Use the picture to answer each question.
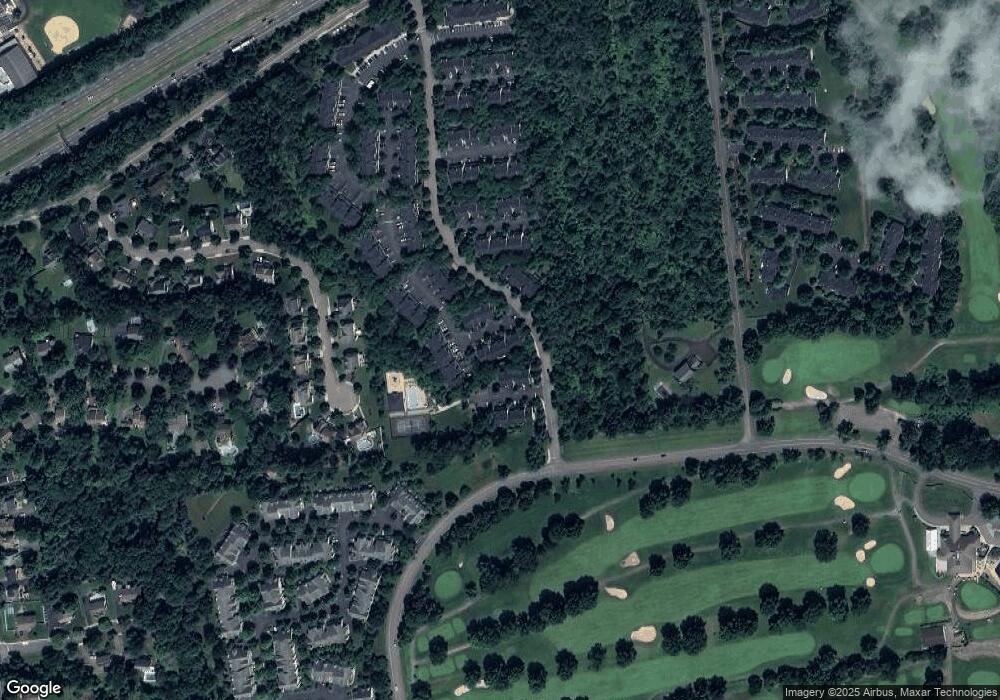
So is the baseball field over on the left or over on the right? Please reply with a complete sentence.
The baseball field is on the left side of the image.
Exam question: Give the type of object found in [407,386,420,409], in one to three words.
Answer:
swimming pool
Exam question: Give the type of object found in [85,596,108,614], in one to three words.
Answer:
house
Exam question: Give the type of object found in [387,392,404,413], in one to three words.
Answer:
building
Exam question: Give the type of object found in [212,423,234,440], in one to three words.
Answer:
house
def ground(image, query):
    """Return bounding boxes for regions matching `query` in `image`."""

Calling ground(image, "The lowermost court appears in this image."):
[391,414,430,437]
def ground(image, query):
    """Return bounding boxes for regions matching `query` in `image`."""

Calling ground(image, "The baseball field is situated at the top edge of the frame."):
[44,16,79,56]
